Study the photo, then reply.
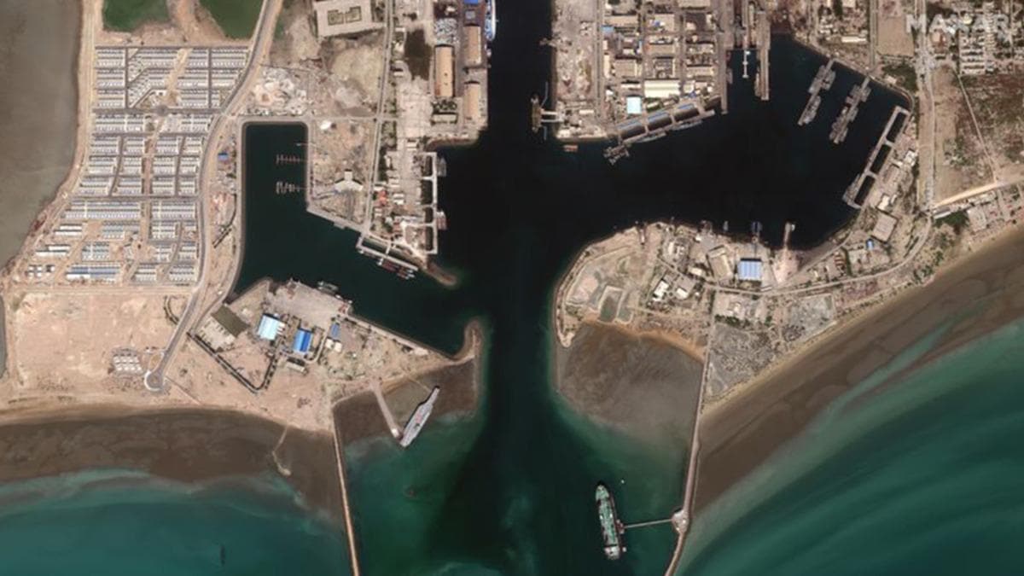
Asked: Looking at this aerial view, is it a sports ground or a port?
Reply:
port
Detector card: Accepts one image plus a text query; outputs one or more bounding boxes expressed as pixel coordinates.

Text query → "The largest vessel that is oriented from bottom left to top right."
[400,387,439,447]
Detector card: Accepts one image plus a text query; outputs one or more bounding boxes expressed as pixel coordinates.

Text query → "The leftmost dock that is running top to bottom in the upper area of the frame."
[404,153,437,254]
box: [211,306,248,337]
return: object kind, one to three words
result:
hangar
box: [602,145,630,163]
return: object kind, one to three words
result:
ship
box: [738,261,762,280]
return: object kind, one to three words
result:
building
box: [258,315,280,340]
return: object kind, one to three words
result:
building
